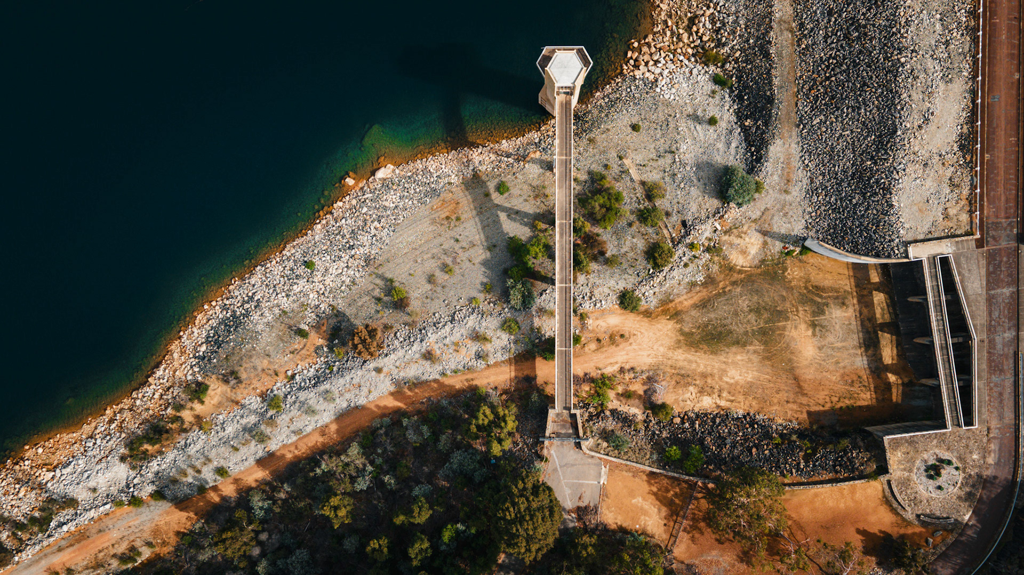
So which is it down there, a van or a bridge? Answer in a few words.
bridge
